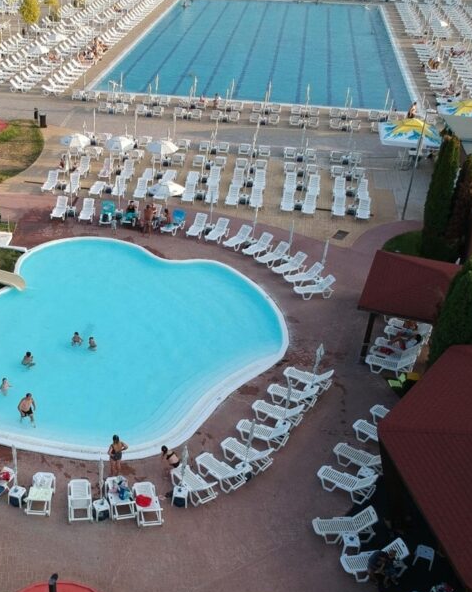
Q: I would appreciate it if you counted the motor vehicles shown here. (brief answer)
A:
0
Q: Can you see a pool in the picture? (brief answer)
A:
Yes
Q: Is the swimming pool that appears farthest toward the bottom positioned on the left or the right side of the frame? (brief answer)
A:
left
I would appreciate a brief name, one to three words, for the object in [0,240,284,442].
swimming pool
